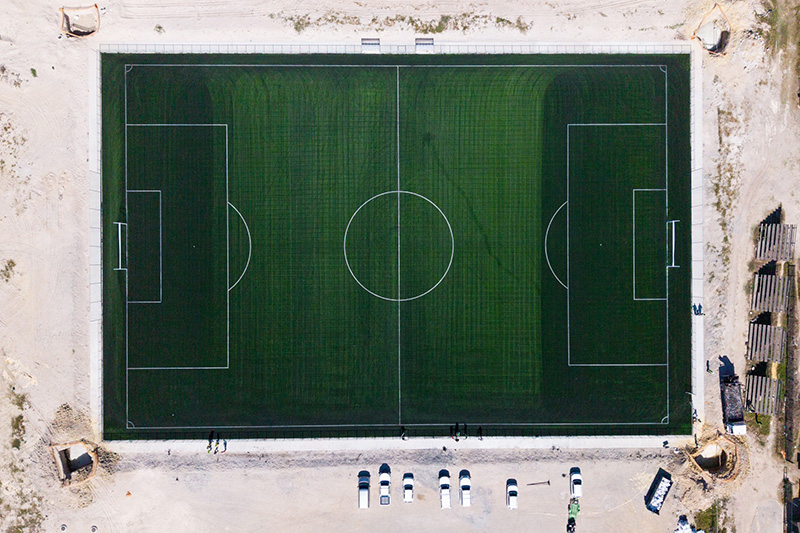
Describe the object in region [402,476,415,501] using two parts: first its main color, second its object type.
white vehicle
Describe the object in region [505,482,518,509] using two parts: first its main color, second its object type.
white vehicle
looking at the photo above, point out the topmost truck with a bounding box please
[718,373,746,431]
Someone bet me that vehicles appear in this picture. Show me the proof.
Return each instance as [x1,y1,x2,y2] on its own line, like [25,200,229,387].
[378,469,391,505]
[505,482,518,509]
[402,476,415,501]
[357,477,371,507]
[569,470,582,498]
[567,499,581,532]
[718,373,746,431]
[458,475,472,506]
[438,474,451,509]
[645,474,671,513]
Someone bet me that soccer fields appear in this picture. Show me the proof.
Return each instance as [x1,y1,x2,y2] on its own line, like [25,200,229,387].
[102,53,692,440]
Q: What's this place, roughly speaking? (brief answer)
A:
sports ground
